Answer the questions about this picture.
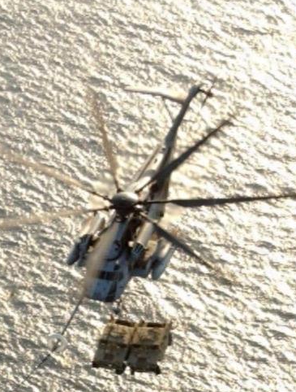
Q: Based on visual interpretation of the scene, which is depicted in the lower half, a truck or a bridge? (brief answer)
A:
truck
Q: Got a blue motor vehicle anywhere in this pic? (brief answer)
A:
No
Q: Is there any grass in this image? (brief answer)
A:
No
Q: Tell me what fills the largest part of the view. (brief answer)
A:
water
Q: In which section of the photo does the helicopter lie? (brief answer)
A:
center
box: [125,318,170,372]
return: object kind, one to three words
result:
truck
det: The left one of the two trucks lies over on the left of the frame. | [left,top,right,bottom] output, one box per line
[95,315,140,368]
